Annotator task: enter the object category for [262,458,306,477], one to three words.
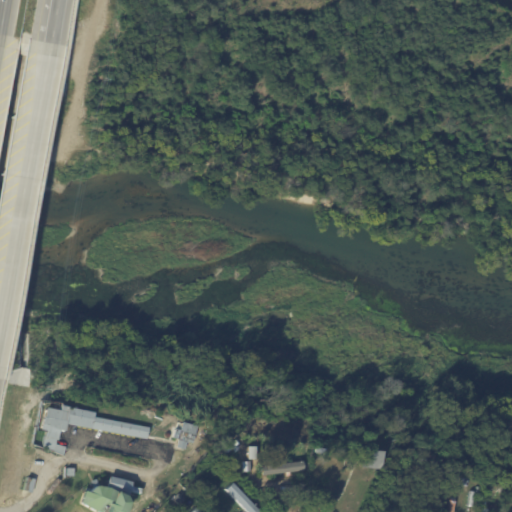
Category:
house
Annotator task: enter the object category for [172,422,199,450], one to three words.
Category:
house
